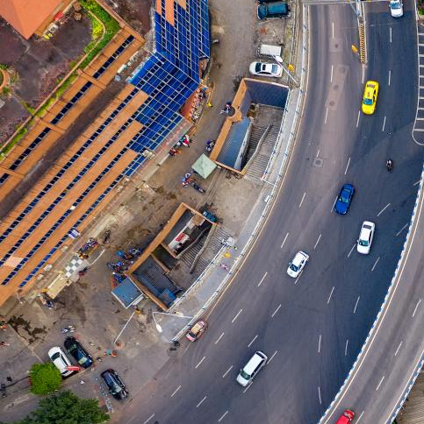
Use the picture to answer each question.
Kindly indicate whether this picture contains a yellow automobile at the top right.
Yes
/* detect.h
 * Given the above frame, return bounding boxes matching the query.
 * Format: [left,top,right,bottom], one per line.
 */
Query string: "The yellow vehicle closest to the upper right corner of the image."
[362,80,379,116]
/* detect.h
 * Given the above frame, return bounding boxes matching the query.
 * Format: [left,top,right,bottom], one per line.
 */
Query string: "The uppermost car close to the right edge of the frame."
[389,0,406,21]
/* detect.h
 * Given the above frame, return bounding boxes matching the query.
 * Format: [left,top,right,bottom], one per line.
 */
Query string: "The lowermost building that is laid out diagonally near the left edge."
[0,85,147,320]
